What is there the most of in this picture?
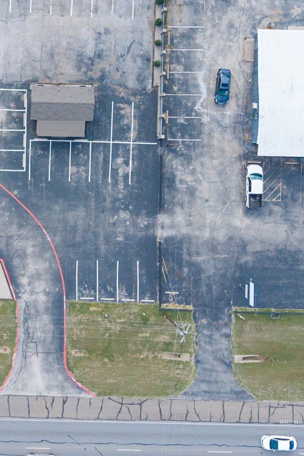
paved ground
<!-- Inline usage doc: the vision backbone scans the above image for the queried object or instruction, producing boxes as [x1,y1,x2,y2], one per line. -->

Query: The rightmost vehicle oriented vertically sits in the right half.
[246,164,265,209]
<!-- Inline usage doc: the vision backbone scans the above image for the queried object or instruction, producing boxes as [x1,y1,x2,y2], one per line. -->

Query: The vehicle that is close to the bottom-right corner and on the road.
[261,434,298,453]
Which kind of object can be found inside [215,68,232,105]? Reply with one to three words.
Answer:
car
